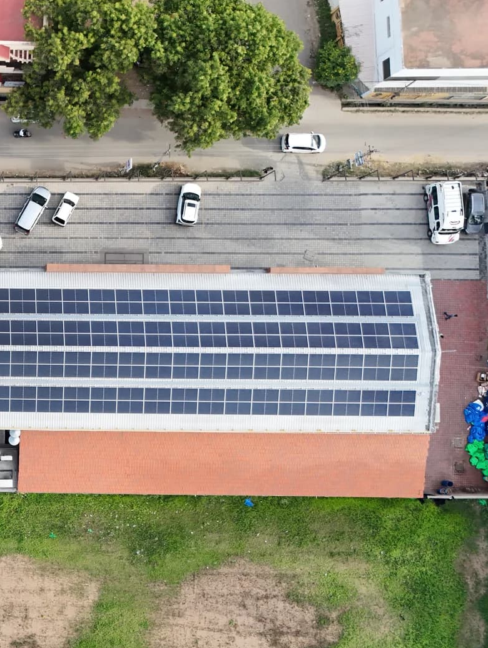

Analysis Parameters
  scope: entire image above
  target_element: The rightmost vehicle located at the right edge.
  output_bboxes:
[460,189,488,236]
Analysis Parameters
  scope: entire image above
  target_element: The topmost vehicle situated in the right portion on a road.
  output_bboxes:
[279,131,325,155]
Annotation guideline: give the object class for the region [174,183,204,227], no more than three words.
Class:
car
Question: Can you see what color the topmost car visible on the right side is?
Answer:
white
